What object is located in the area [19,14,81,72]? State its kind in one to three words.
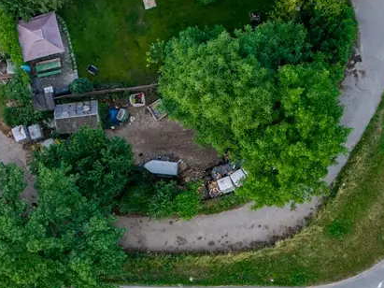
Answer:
building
